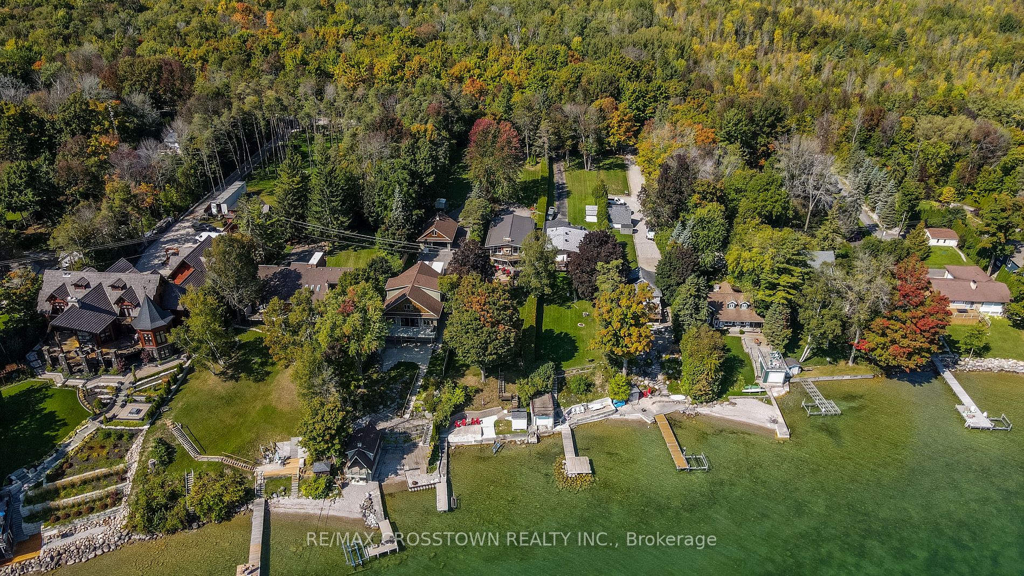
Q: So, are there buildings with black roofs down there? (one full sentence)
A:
Yes, the photo shows a building with a black roof.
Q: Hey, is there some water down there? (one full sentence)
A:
Yes, some water is visible.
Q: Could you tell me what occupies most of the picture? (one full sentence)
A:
The bulk of the photo consists of trees.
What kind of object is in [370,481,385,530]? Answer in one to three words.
pier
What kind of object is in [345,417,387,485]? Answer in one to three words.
building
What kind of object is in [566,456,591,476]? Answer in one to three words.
pier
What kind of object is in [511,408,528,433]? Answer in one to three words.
shed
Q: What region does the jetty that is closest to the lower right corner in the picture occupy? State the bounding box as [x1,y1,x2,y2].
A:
[937,364,992,433]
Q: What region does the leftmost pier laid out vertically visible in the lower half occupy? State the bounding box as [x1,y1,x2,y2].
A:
[236,499,267,576]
